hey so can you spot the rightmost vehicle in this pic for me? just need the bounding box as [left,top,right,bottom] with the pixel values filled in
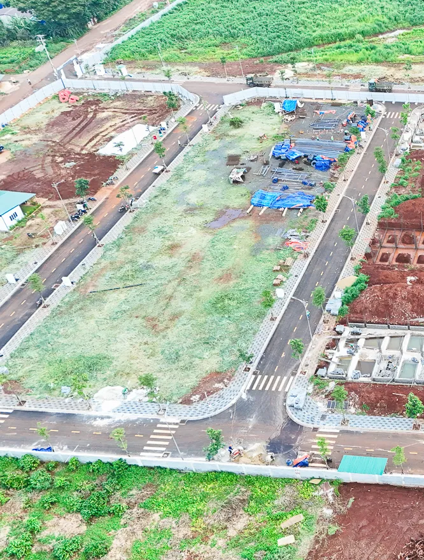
[366,79,393,91]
